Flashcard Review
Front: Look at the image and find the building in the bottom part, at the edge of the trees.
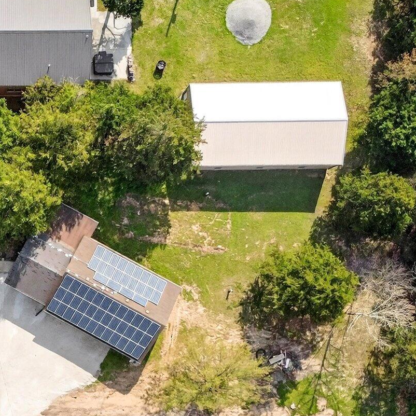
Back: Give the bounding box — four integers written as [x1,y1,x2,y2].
[4,202,182,364]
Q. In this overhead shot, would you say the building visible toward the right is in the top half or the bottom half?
top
